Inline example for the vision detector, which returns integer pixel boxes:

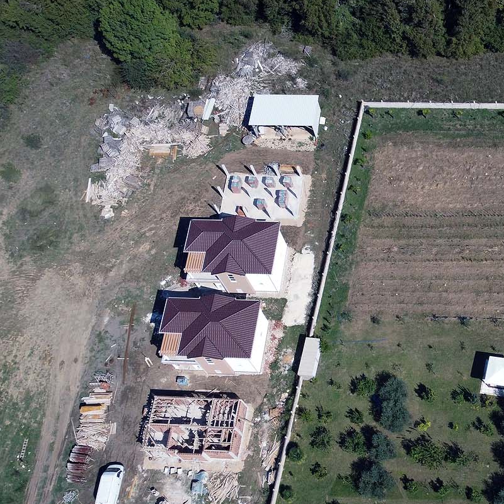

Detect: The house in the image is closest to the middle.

[182,215,287,294]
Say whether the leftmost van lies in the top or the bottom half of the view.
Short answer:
bottom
